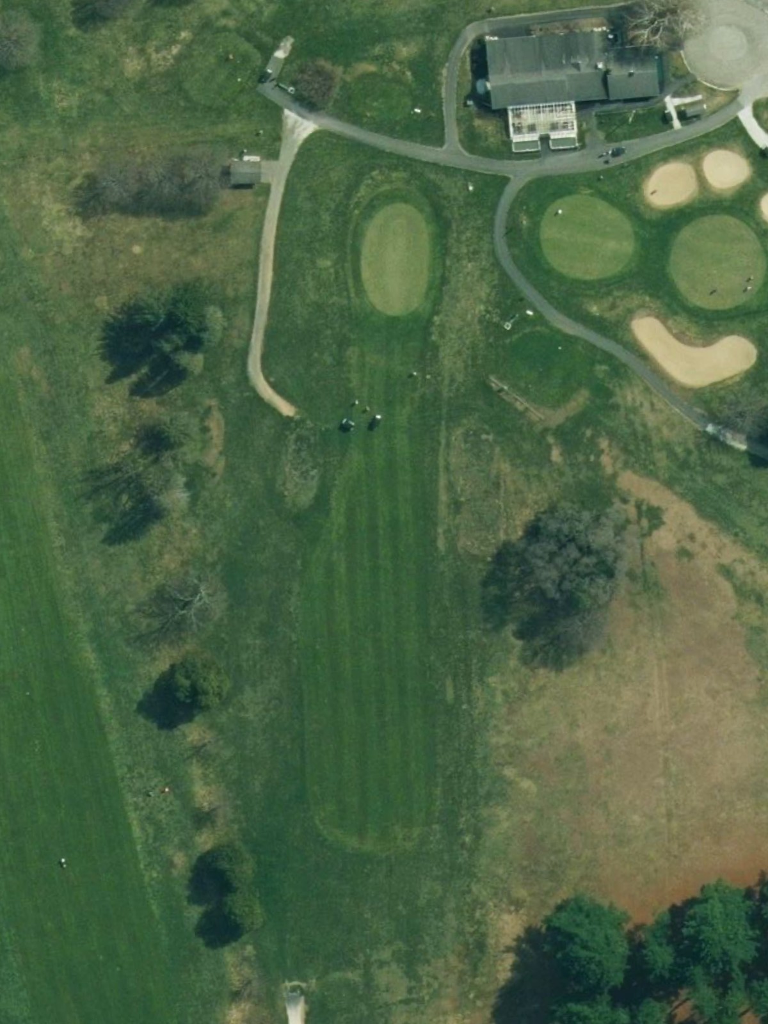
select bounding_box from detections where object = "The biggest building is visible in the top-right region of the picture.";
[486,29,666,112]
